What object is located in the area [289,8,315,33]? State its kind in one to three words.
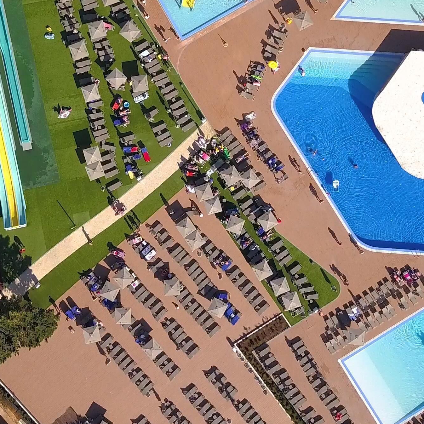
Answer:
umbrella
